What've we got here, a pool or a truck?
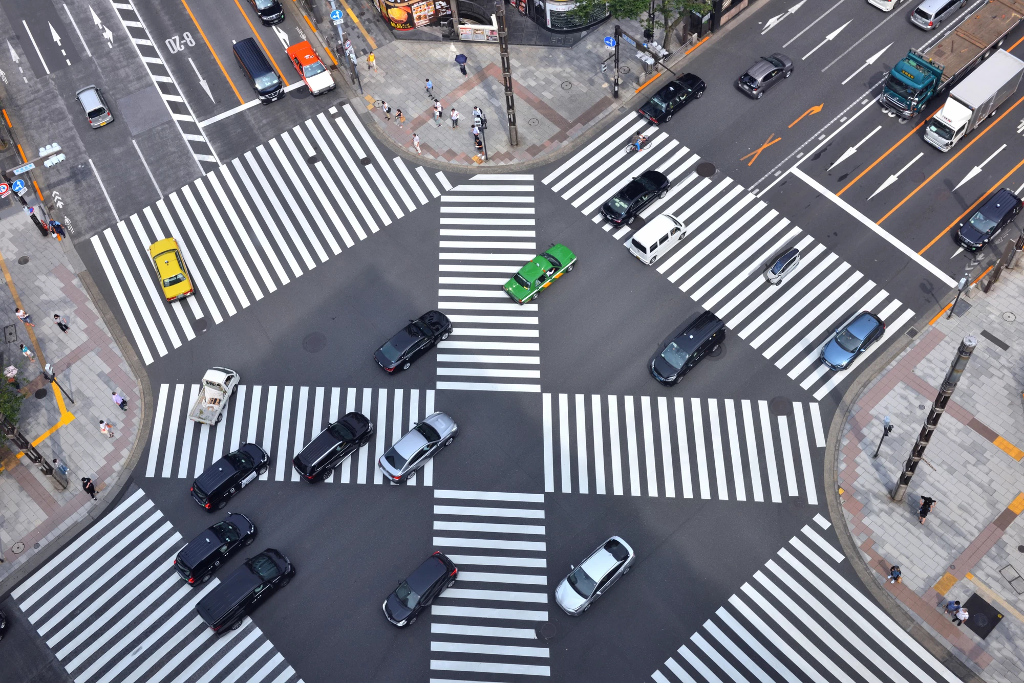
truck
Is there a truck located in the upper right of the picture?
Yes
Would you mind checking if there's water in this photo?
No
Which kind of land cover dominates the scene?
paved ground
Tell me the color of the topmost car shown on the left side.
black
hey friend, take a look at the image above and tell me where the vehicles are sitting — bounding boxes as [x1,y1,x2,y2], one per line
[880,0,1024,121]
[151,236,194,304]
[631,214,686,265]
[640,74,708,126]
[173,513,255,587]
[819,307,887,372]
[287,43,335,98]
[233,41,282,104]
[651,311,725,384]
[504,244,578,306]
[243,0,283,27]
[382,551,460,630]
[602,172,672,229]
[924,48,1024,153]
[958,190,1022,254]
[557,536,636,617]
[739,55,793,99]
[911,0,969,31]
[292,414,375,487]
[198,553,293,636]
[189,443,269,511]
[189,368,242,426]
[375,312,453,376]
[75,87,113,130]
[378,413,457,483]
